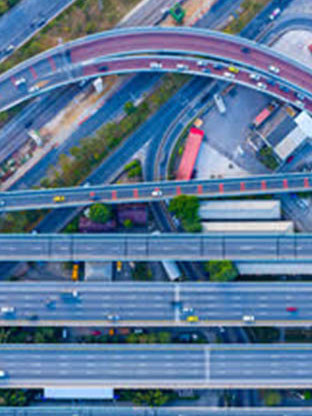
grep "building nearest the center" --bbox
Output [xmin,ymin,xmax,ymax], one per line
[116,206,147,226]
